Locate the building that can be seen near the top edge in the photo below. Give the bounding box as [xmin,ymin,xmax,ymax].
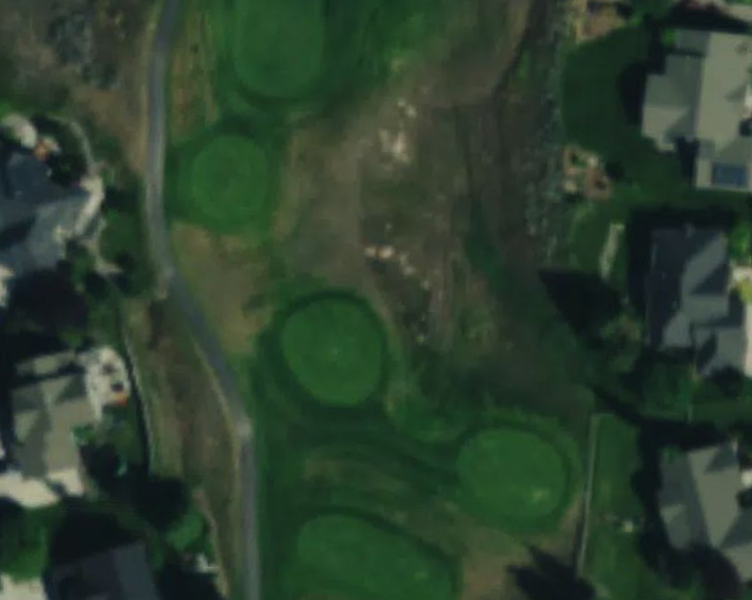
[640,24,752,191]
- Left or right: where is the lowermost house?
left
